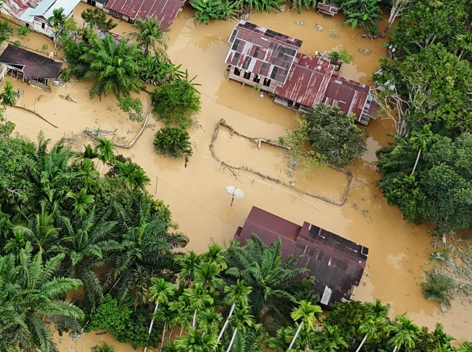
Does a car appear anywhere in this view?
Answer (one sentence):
No, there appears to be no car in this shot.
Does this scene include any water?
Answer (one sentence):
Yes, water shows up in the scene.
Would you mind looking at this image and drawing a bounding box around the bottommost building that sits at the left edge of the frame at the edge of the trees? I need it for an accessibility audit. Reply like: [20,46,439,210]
[0,44,63,90]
